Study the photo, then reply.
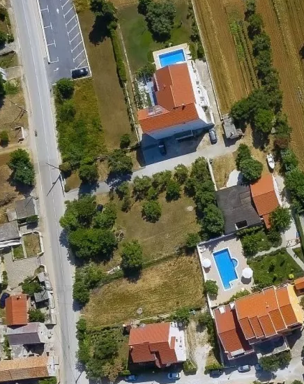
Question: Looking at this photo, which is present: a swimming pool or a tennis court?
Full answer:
Of the two, only a swimming pool appears.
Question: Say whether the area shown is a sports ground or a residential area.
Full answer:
It's a residential area.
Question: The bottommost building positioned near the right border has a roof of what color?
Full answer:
The color of the roof on the bottommost building positioned near the right border is orange.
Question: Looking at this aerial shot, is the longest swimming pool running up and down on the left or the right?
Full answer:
The longest swimming pool running up and down appears in the right half of the scene.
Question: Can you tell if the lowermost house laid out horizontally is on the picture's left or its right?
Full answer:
It is on the left.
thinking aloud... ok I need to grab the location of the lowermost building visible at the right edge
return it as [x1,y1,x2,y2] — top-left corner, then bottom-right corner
[214,284,304,357]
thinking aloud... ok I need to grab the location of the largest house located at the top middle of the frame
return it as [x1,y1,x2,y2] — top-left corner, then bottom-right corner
[137,65,218,140]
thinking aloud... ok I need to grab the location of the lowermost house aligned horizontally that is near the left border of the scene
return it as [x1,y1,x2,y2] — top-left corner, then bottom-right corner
[0,356,59,382]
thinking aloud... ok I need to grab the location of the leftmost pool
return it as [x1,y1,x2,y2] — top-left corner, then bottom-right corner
[154,45,190,69]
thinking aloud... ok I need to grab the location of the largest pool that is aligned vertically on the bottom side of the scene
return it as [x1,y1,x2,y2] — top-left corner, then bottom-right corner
[212,247,239,292]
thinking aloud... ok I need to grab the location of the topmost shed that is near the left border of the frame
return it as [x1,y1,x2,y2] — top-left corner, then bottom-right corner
[8,197,43,221]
